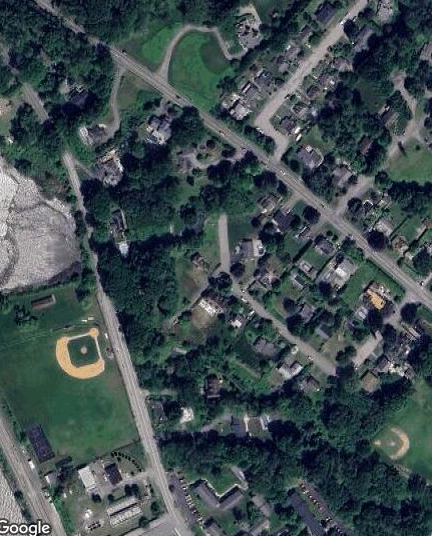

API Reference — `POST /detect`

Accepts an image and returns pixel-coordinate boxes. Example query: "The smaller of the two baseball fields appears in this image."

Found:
[374,427,410,461]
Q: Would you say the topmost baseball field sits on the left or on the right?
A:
left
